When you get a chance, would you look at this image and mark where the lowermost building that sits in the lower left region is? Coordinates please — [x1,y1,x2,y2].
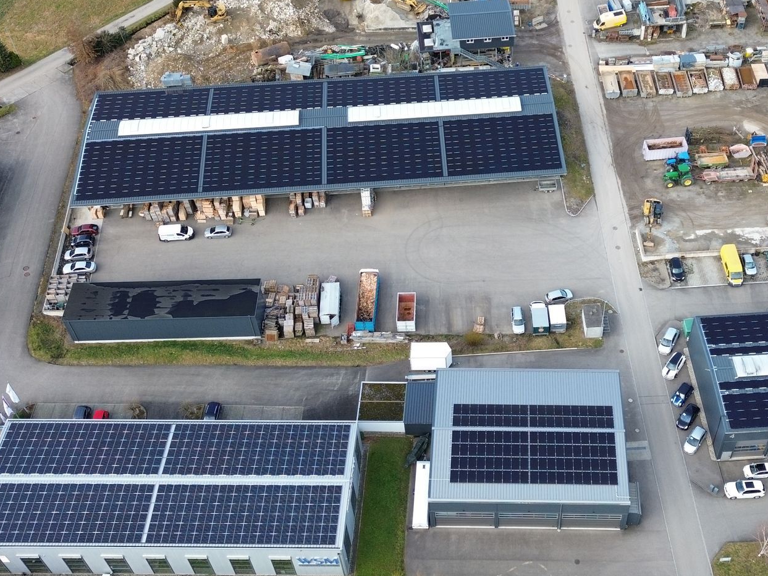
[0,420,361,571]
